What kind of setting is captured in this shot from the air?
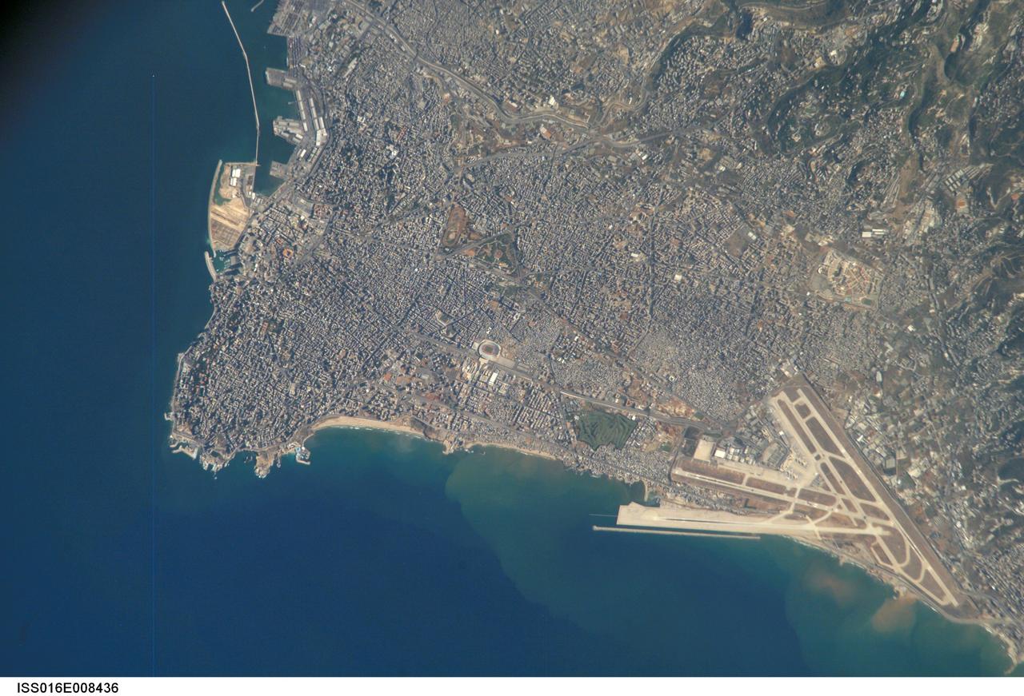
port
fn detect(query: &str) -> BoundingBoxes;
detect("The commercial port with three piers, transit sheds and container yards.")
[266,0,322,188]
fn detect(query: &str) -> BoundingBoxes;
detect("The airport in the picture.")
[617,373,979,620]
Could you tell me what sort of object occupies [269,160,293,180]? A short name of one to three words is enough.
pier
